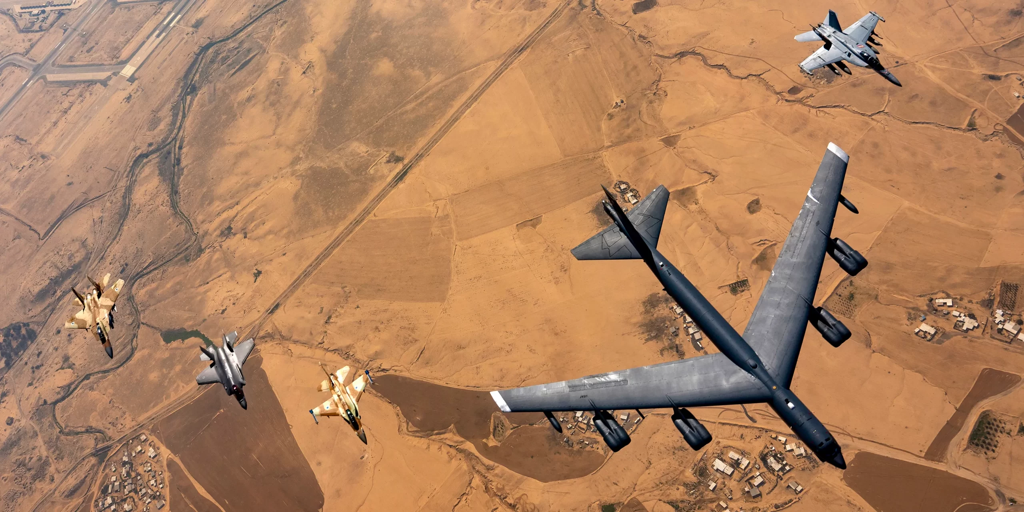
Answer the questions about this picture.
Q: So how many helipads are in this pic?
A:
none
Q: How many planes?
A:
five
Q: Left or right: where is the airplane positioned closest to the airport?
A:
left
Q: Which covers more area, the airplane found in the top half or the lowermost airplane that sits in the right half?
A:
the lowermost airplane that sits in the right half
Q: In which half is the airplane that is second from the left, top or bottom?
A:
bottom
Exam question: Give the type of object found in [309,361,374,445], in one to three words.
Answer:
airplane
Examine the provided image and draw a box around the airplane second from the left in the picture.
[196,331,255,410]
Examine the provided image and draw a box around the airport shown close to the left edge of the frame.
[0,0,200,159]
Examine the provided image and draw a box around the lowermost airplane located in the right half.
[489,141,868,470]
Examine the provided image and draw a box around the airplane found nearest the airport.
[65,273,124,358]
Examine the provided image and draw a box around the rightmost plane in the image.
[794,9,902,86]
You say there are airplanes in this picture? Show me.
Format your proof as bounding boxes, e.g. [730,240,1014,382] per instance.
[794,9,902,86]
[309,361,374,445]
[196,331,255,410]
[65,273,124,358]
[489,141,868,470]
